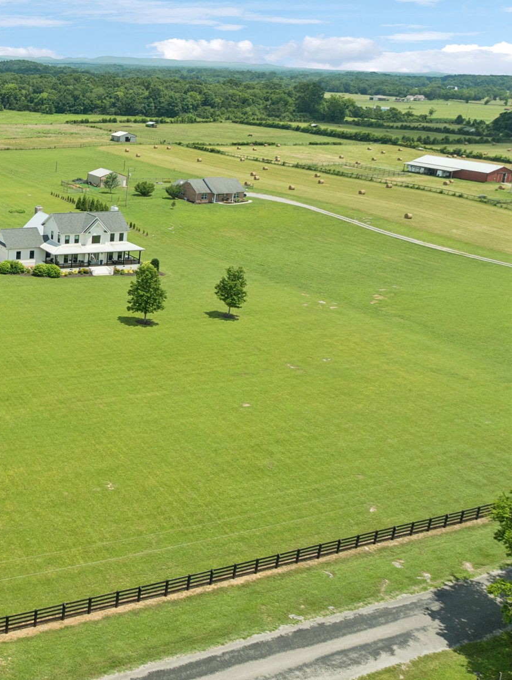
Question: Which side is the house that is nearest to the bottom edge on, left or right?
left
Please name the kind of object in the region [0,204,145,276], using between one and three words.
house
